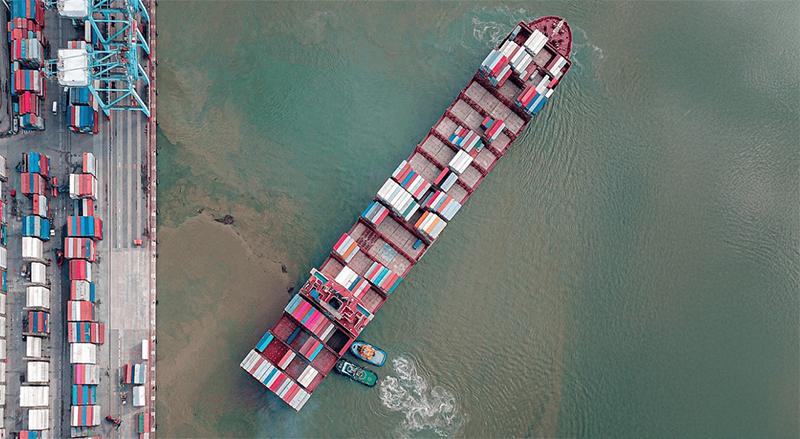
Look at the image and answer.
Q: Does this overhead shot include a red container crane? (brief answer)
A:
No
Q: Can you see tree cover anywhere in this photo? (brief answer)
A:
No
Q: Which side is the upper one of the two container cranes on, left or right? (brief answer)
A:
left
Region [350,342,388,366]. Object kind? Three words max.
boat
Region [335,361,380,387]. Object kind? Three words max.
boat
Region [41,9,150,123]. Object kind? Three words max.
container crane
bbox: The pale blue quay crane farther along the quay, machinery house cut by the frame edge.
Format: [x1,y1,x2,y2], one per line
[41,0,150,59]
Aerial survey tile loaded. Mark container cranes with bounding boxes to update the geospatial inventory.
[41,9,150,123]
[41,0,150,59]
